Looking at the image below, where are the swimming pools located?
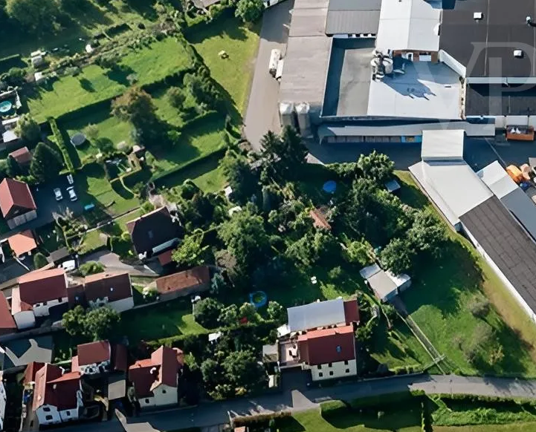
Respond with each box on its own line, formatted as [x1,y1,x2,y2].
[0,100,12,112]
[250,292,268,308]
[322,180,337,193]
